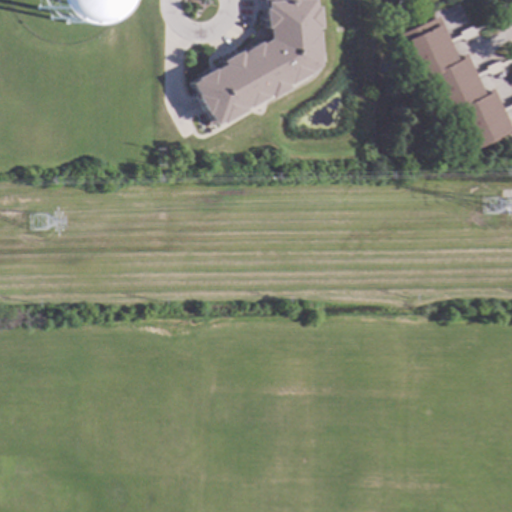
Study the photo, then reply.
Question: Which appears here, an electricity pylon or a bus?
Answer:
electricity pylon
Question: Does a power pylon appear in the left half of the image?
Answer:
Yes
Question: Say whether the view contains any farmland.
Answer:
Yes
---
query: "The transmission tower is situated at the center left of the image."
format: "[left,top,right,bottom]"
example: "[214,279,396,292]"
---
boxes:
[30,206,66,237]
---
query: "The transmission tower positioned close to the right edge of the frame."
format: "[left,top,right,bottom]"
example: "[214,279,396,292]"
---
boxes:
[483,194,512,216]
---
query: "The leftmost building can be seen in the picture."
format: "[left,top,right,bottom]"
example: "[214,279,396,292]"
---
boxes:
[190,0,328,122]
